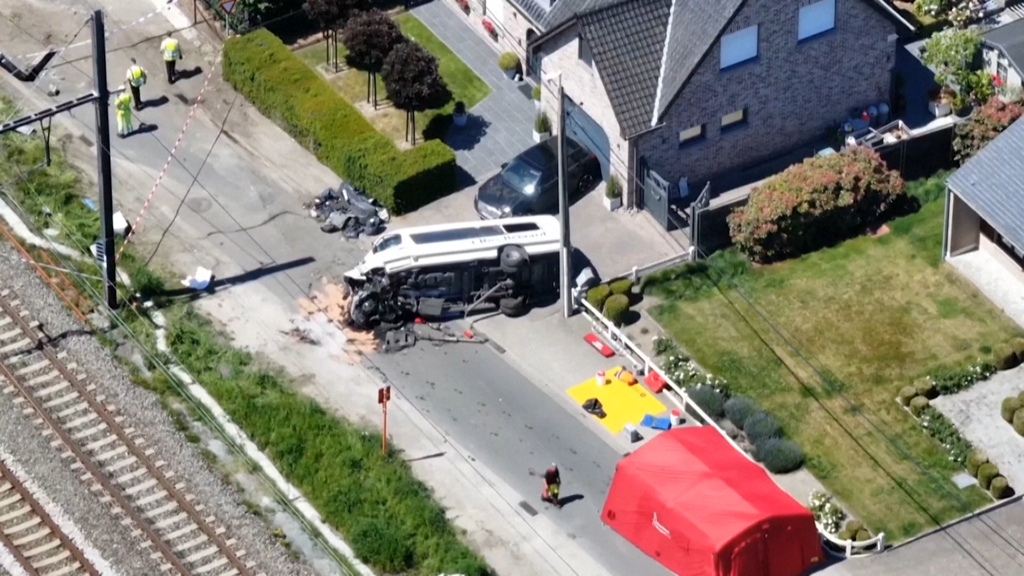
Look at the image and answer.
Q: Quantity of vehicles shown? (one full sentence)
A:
Looking from above, you can make out 2 vehicles.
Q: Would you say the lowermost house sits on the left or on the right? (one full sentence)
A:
The lowermost house is on the right side of the image.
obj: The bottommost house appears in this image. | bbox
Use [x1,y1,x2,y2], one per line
[941,115,1024,288]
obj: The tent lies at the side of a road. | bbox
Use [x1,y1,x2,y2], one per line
[601,429,825,576]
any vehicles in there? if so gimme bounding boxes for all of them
[340,219,575,327]
[475,126,603,224]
